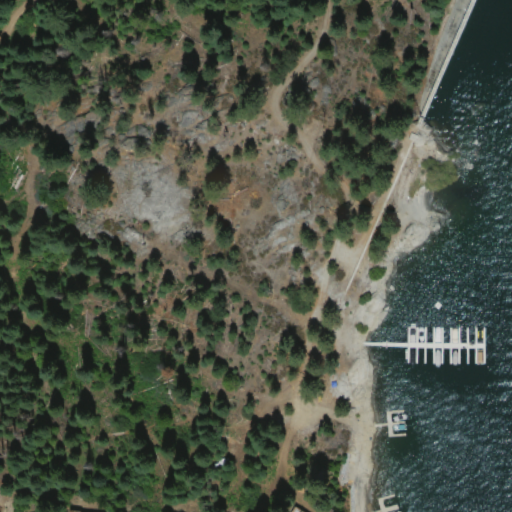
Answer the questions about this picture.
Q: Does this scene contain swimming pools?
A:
No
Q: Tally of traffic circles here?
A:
none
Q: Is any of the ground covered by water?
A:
Yes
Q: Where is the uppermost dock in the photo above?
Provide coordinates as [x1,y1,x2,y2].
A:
[362,327,486,364]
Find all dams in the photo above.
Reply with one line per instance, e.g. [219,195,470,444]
[414,0,476,118]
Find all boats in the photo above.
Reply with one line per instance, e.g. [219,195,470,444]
[410,324,416,342]
[452,350,457,365]
[419,328,424,342]
[452,327,458,342]
[435,348,442,367]
[392,415,408,421]
[410,349,416,365]
[435,326,442,342]
[478,350,484,365]
[393,426,408,432]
